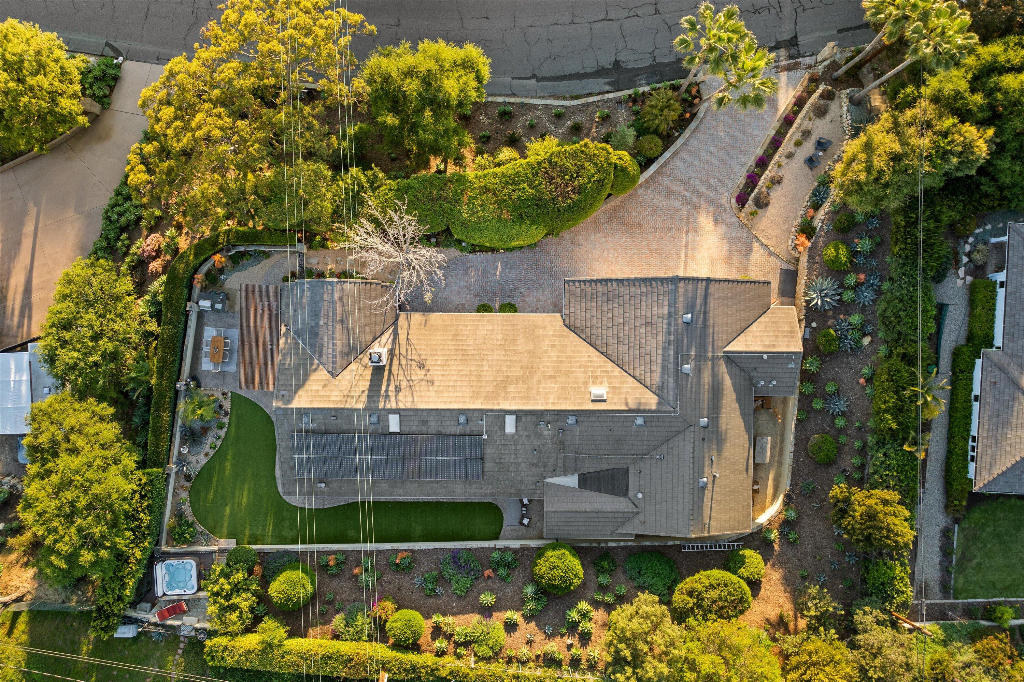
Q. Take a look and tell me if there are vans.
No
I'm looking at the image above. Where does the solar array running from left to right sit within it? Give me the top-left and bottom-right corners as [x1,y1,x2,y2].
[291,434,482,480]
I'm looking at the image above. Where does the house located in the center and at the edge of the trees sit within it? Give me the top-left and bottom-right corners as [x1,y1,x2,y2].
[271,274,805,540]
